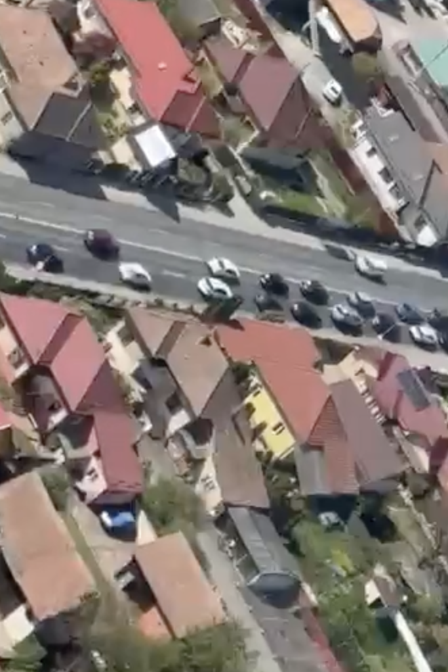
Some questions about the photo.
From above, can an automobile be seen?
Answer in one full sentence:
Yes, there is an automobile in the image.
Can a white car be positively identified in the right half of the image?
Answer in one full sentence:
Yes, looking in the right half of the image, one can make out a white car.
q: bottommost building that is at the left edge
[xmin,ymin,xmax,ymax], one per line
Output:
[0,471,109,635]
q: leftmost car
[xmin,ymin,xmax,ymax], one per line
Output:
[23,247,64,272]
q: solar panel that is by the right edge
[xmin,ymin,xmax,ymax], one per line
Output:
[398,371,431,411]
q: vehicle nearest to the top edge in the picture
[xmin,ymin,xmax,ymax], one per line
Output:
[319,75,344,106]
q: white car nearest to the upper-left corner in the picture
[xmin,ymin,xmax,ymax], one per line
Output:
[115,264,152,289]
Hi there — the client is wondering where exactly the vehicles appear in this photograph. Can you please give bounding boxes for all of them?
[367,318,399,339]
[297,280,332,306]
[328,303,364,328]
[195,277,232,302]
[424,311,448,332]
[257,273,290,295]
[344,294,375,315]
[392,303,426,324]
[204,258,240,282]
[319,75,344,106]
[287,302,324,328]
[23,247,64,272]
[407,327,437,348]
[435,332,448,352]
[115,264,152,289]
[353,255,388,278]
[250,291,284,314]
[81,230,122,257]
